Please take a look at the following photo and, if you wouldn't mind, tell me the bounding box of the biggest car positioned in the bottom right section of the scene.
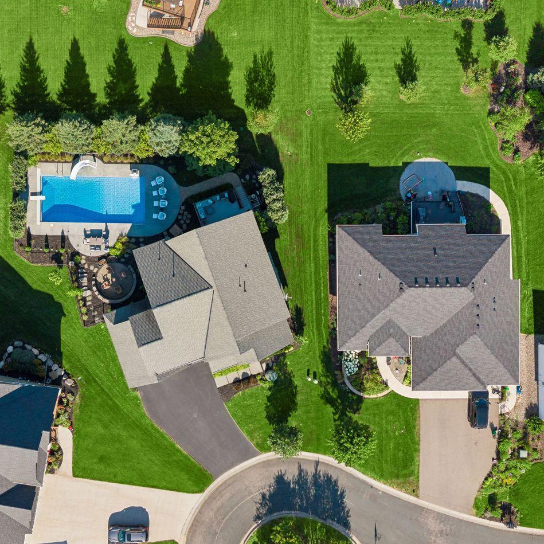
[470,387,492,430]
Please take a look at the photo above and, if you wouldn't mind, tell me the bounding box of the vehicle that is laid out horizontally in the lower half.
[109,525,149,544]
